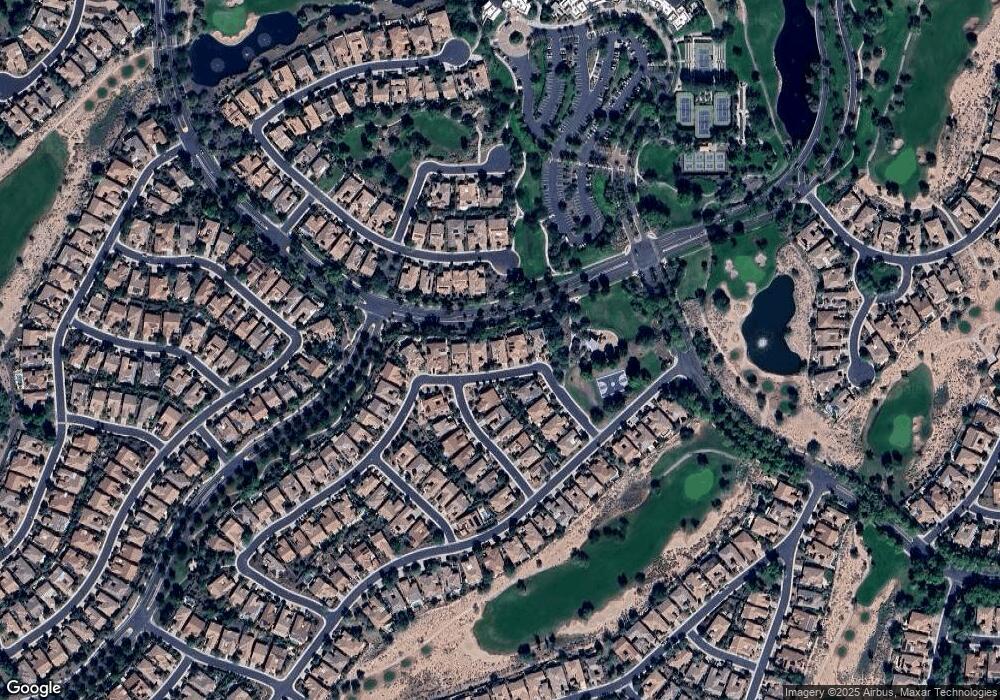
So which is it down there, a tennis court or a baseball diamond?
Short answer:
tennis court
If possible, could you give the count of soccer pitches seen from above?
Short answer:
none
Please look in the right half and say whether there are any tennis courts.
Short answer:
Yes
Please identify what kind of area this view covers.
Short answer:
residential area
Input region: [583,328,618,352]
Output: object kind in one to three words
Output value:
playground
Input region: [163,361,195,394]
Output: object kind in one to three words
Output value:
house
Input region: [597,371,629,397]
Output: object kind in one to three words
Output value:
basketball court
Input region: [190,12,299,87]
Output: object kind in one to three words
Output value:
pond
